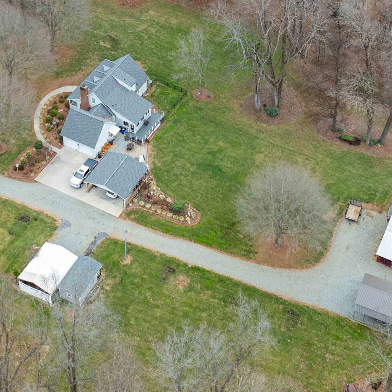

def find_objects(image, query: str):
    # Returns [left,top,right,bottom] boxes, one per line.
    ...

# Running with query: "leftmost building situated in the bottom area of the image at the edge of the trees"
[16,242,81,306]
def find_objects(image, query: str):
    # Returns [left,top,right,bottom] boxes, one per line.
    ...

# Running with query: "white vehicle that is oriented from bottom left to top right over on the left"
[70,155,97,186]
